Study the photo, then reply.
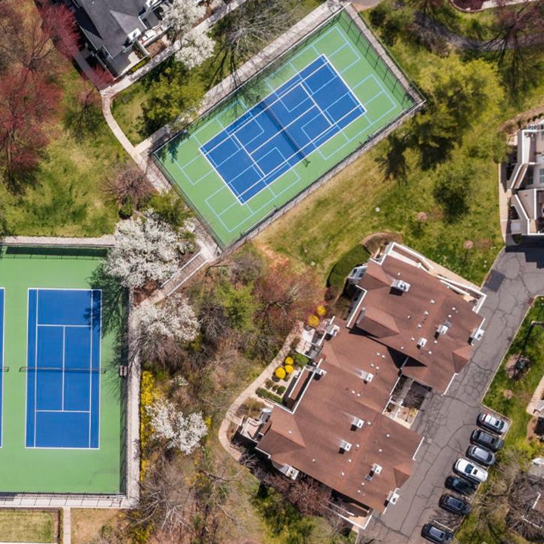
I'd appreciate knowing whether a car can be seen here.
Yes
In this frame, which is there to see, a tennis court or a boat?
tennis court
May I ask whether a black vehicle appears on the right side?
Yes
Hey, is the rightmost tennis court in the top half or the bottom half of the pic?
top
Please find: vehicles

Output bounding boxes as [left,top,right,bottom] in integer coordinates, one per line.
[419,522,455,544]
[474,411,511,435]
[452,458,489,483]
[435,492,472,517]
[442,473,478,499]
[468,428,504,453]
[462,442,496,468]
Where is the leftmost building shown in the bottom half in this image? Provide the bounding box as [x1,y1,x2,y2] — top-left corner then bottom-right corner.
[234,242,487,531]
